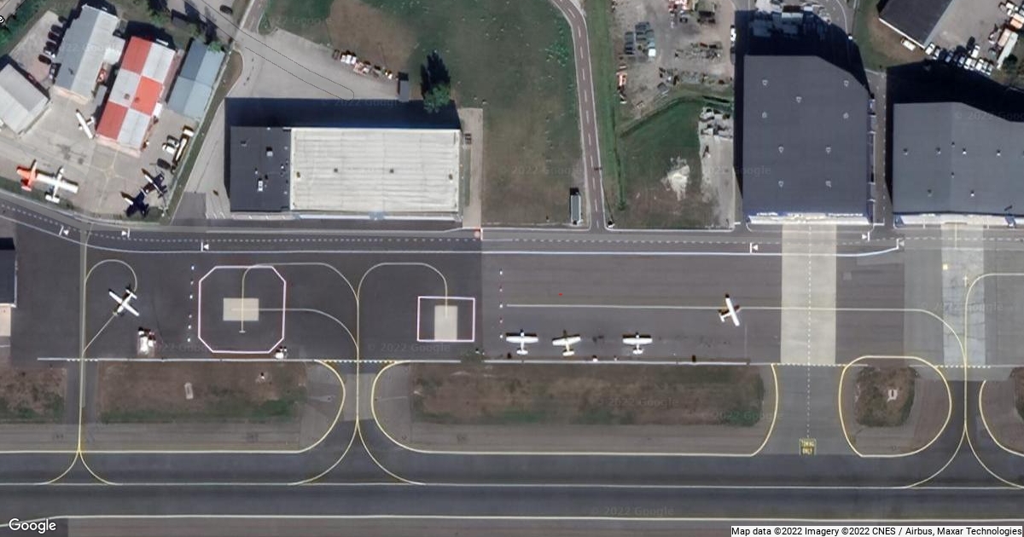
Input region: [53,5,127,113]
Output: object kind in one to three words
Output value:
hangar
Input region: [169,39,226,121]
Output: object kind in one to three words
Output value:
hangar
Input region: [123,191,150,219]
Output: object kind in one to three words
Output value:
airplane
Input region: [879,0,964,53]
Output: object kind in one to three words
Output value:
building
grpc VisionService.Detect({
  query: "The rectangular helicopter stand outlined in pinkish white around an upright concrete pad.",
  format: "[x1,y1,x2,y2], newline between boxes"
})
[417,296,476,342]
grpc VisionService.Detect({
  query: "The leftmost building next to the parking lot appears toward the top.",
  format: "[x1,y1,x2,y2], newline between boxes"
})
[0,61,50,136]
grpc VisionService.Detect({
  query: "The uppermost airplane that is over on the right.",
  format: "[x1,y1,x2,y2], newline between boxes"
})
[717,297,740,325]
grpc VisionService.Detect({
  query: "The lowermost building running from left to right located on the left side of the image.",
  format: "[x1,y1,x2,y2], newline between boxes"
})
[230,127,465,220]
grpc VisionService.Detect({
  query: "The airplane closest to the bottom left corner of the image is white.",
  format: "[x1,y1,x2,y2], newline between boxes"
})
[108,285,139,313]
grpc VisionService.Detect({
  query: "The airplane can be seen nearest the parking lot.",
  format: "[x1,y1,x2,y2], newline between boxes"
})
[75,113,99,138]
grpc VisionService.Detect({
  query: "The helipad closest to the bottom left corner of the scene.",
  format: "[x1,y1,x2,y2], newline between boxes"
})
[198,265,286,353]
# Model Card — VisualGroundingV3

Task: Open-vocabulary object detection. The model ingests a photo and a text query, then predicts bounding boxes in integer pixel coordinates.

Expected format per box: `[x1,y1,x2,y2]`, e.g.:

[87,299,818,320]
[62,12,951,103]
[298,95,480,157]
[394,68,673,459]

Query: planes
[622,335,652,357]
[140,171,167,198]
[506,332,538,356]
[552,335,581,358]
[75,113,99,138]
[38,174,78,204]
[717,297,740,325]
[18,167,47,191]
[108,285,139,313]
[123,191,150,219]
